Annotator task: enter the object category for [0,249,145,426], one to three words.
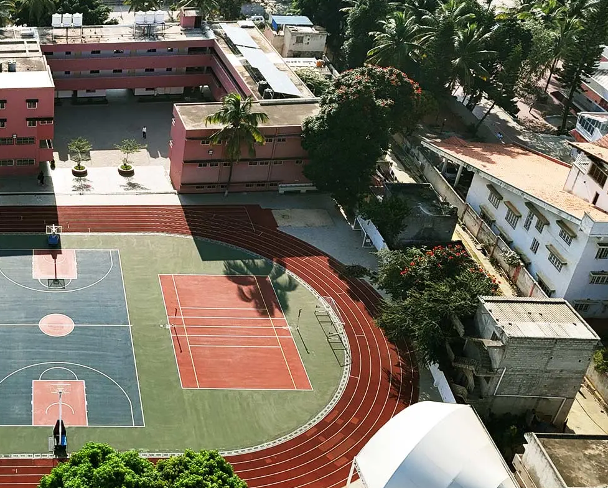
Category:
basketball court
